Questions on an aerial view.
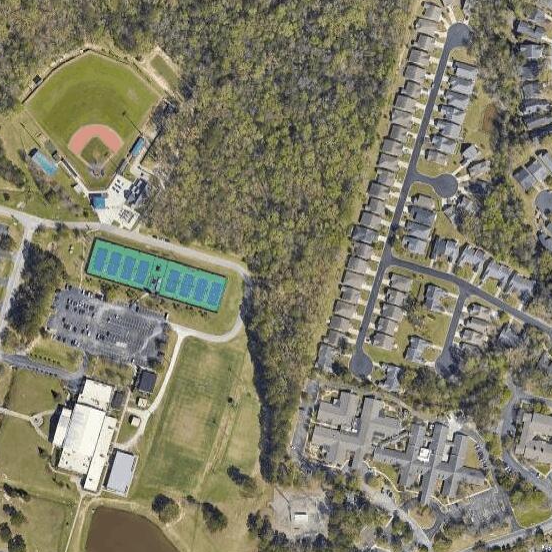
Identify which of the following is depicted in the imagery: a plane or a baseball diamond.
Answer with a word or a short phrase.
baseball diamond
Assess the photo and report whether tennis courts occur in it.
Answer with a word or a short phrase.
Yes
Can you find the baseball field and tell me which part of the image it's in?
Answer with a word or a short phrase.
top left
